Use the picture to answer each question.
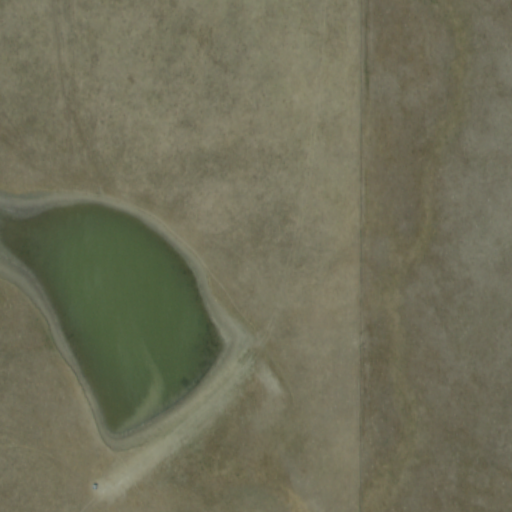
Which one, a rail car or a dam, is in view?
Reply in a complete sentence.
The one in the frame is a dam.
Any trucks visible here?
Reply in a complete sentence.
No, I can't see a single truck in this photo.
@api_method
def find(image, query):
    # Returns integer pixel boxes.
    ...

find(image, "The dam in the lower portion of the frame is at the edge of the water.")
[108,334,265,503]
